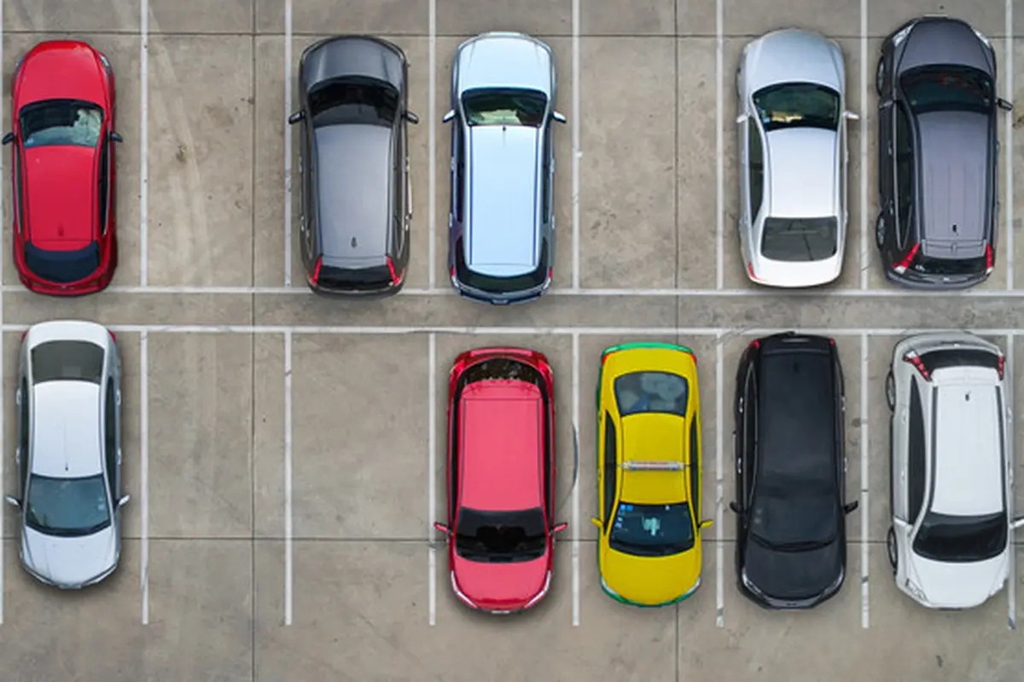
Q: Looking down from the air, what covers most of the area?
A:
paved ground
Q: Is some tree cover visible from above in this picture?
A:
No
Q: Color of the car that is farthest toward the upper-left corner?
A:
red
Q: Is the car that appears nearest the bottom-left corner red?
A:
No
